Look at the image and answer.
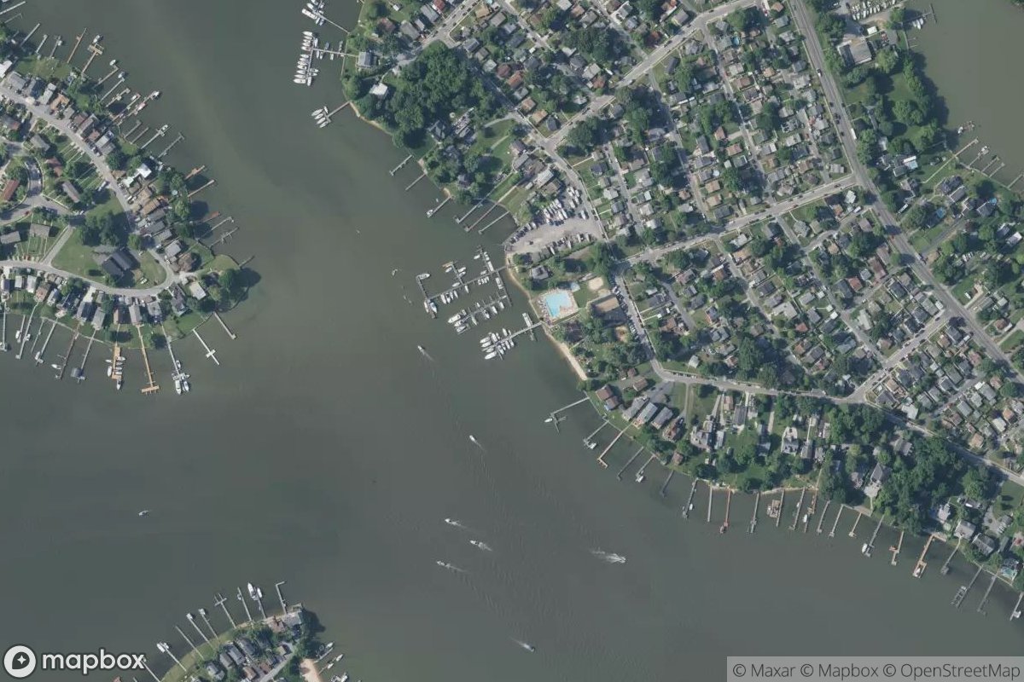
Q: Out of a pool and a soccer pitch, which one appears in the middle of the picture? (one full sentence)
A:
The feature located in the middle of the picture is a pool.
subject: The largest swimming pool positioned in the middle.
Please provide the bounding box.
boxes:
[537,288,579,321]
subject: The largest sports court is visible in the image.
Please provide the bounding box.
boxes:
[591,294,627,327]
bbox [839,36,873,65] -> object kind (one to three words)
building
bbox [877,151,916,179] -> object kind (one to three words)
house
